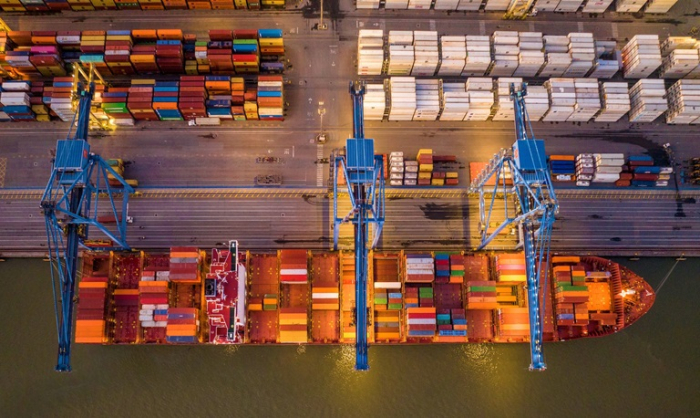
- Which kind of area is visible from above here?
port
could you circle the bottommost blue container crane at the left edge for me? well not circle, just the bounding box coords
[35,80,145,374]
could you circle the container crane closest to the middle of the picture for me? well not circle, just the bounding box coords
[322,81,386,371]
